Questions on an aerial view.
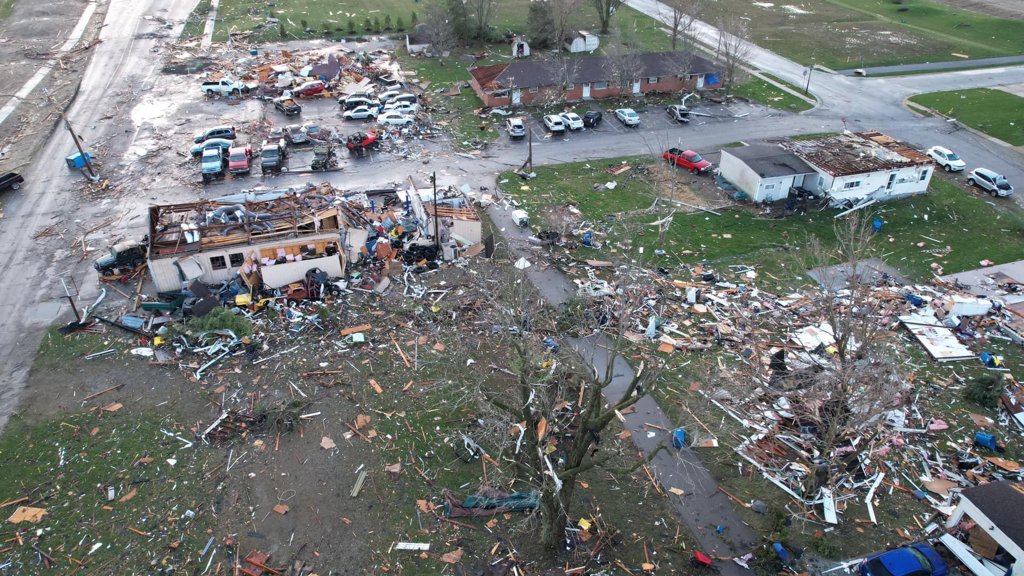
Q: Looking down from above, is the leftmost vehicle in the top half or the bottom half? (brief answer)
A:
top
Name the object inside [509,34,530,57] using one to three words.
shed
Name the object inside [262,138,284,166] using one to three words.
truck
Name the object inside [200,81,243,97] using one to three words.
vehicle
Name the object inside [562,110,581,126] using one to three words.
car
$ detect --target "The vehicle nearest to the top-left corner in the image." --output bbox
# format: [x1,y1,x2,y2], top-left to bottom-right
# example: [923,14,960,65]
[0,171,30,191]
